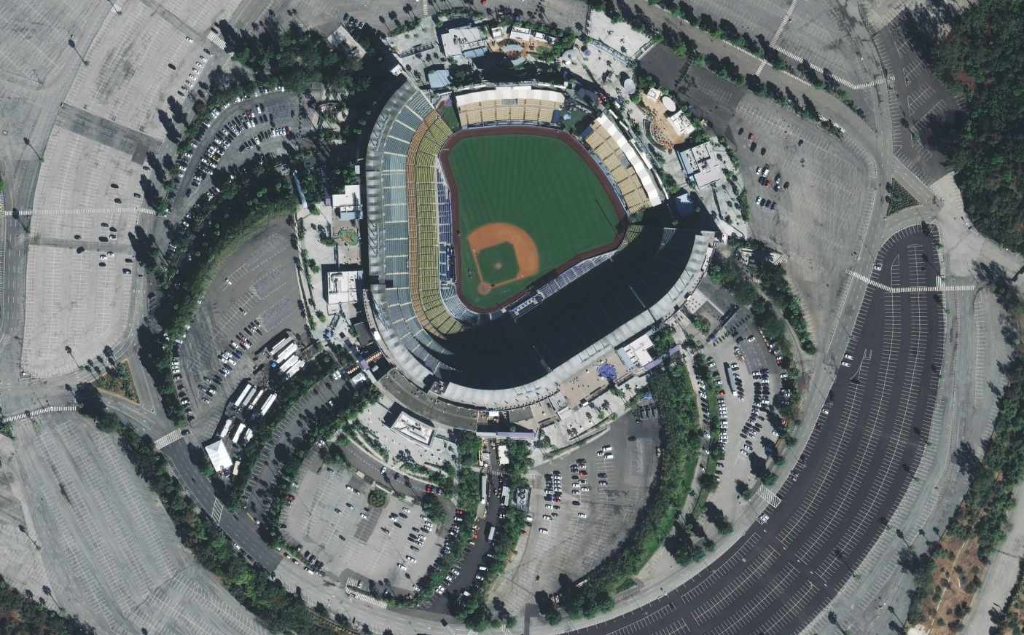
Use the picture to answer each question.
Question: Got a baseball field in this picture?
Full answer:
Yes, looking at the shot, I can spot a baseball field.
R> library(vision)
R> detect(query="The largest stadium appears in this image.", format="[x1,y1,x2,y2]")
[364,64,729,410]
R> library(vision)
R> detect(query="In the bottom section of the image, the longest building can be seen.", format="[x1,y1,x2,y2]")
[379,370,477,429]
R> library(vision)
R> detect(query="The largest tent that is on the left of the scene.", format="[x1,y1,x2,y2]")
[205,439,232,472]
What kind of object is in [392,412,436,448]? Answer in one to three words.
building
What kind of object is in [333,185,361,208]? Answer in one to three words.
building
